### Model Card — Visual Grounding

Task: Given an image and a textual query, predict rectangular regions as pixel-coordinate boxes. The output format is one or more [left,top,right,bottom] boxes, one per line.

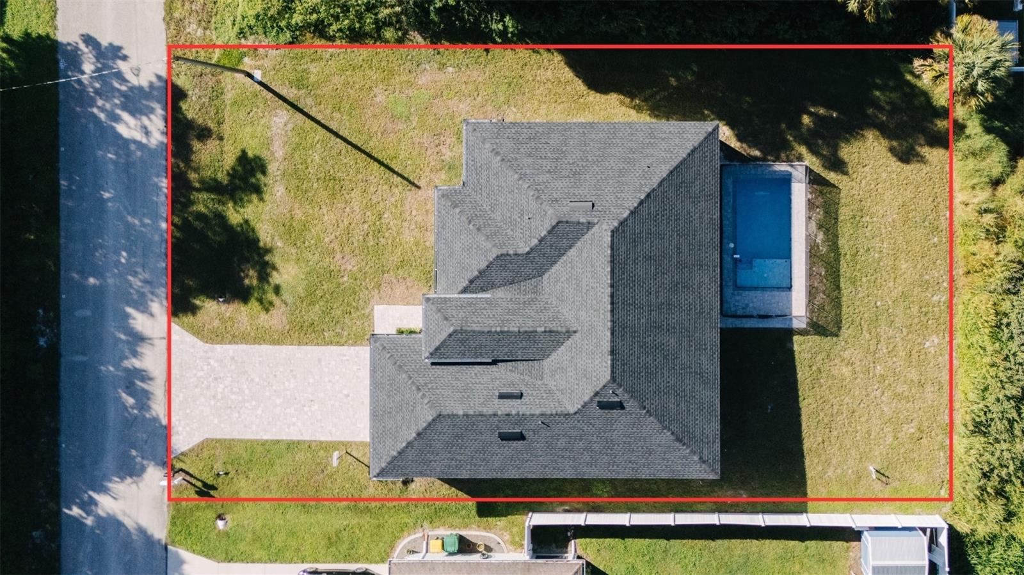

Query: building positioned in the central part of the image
[368,118,721,481]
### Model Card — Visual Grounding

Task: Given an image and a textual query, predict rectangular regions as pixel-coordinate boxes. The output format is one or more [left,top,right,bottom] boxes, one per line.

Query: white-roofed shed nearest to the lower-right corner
[860,528,928,575]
